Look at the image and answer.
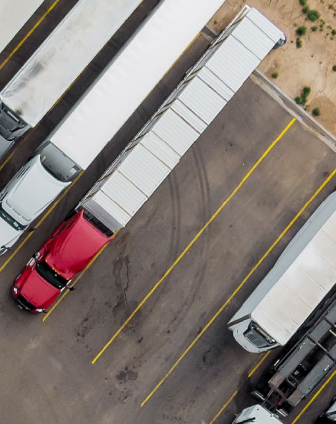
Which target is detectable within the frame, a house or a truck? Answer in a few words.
truck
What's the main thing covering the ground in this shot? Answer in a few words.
paved ground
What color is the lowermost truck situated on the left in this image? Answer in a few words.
red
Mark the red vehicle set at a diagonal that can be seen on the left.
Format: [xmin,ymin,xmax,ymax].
[11,199,118,316]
